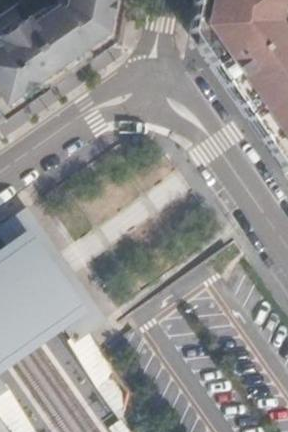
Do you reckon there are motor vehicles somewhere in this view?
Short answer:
Yes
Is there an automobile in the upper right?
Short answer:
Yes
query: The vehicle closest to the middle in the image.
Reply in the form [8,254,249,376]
[200,169,217,189]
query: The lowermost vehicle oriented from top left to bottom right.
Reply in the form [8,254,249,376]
[260,252,277,272]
